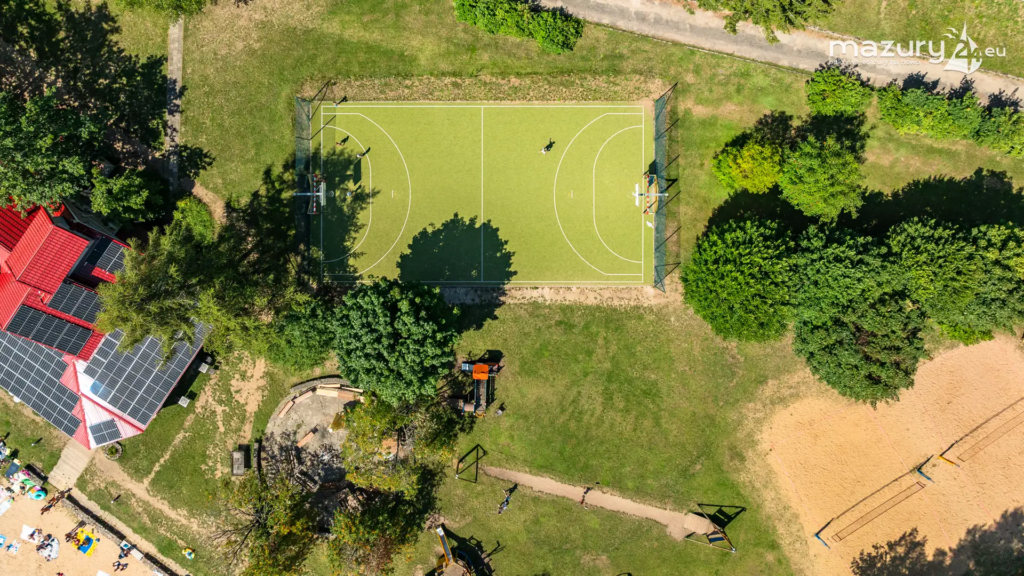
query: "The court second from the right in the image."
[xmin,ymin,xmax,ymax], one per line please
[772,405,960,576]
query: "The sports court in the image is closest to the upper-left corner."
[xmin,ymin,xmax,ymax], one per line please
[310,100,656,288]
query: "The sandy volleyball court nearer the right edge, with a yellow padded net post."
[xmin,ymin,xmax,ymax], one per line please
[915,347,1024,549]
